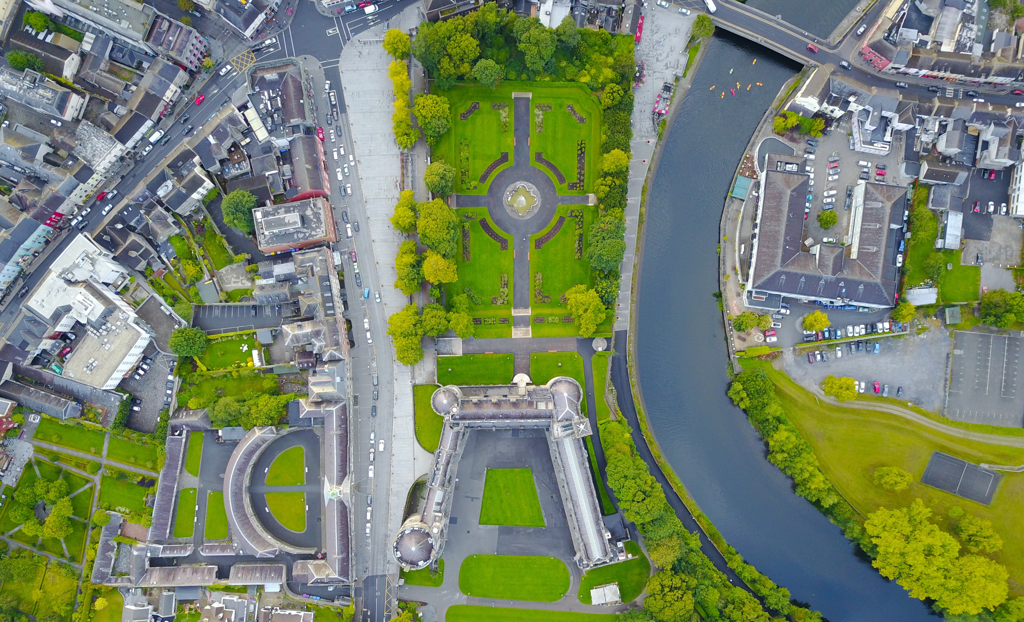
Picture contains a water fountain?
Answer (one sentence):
Yes, a water fountain is visible in the scene.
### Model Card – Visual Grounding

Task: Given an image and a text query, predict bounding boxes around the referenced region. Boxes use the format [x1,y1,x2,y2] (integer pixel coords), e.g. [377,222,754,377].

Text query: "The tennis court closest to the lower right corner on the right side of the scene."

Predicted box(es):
[921,450,1006,508]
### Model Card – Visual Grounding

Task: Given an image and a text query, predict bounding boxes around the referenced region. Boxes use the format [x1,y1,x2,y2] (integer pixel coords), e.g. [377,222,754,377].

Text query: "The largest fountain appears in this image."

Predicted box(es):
[503,181,541,219]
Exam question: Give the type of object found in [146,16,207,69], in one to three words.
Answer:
building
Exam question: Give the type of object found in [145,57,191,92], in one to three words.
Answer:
house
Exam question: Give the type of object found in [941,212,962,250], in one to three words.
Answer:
shed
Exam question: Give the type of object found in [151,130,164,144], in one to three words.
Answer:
vehicle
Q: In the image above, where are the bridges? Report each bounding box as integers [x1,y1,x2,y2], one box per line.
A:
[710,0,825,69]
